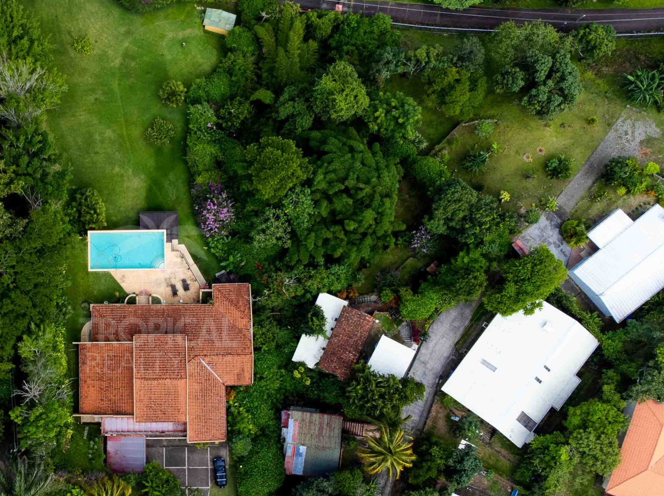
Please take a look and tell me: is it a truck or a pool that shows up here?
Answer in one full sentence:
The image shows a pool.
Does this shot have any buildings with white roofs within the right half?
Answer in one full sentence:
Yes, within the right half there is a building with a white roof.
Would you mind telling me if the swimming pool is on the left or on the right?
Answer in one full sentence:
It is on the left.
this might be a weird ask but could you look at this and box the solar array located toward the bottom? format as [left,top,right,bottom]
[516,412,537,433]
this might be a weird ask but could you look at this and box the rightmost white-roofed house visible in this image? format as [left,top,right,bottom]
[563,204,664,324]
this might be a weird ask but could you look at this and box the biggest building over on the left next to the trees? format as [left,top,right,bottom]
[72,283,254,444]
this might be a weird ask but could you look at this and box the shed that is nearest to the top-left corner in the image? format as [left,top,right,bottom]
[203,8,237,36]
